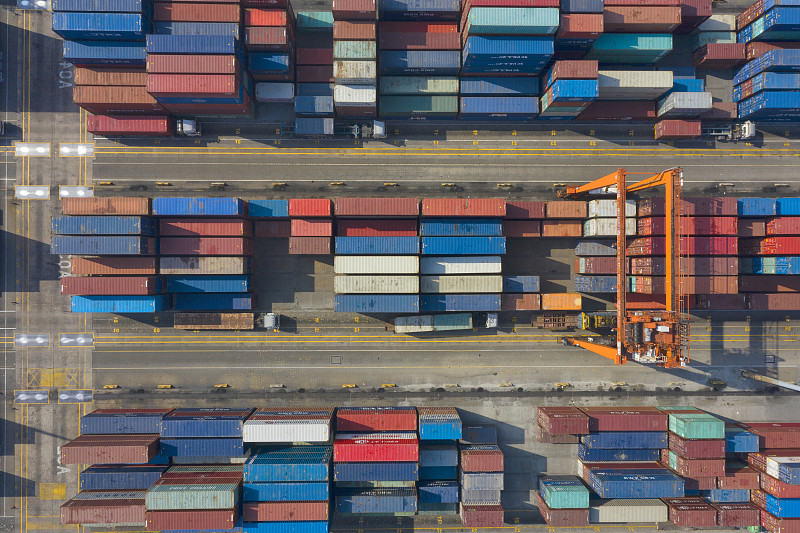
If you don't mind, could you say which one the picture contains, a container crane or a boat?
container crane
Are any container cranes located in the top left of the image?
No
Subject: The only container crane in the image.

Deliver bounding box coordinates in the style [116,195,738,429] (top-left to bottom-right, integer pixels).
[560,166,692,368]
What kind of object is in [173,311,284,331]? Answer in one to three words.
vehicle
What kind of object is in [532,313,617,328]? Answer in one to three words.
vehicle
